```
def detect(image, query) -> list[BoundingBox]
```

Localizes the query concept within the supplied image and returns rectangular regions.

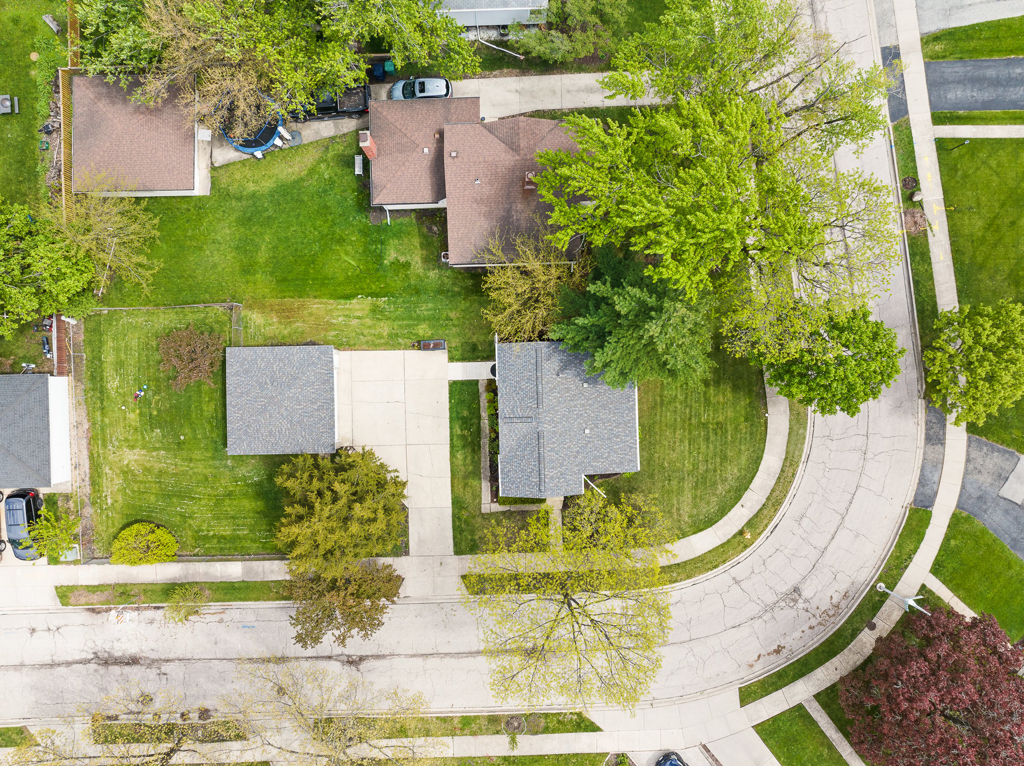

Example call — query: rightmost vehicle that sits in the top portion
[391,73,453,97]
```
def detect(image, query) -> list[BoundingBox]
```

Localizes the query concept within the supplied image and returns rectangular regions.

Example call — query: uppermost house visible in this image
[438,0,548,57]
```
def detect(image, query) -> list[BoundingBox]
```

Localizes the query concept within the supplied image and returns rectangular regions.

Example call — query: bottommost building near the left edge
[0,373,70,488]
